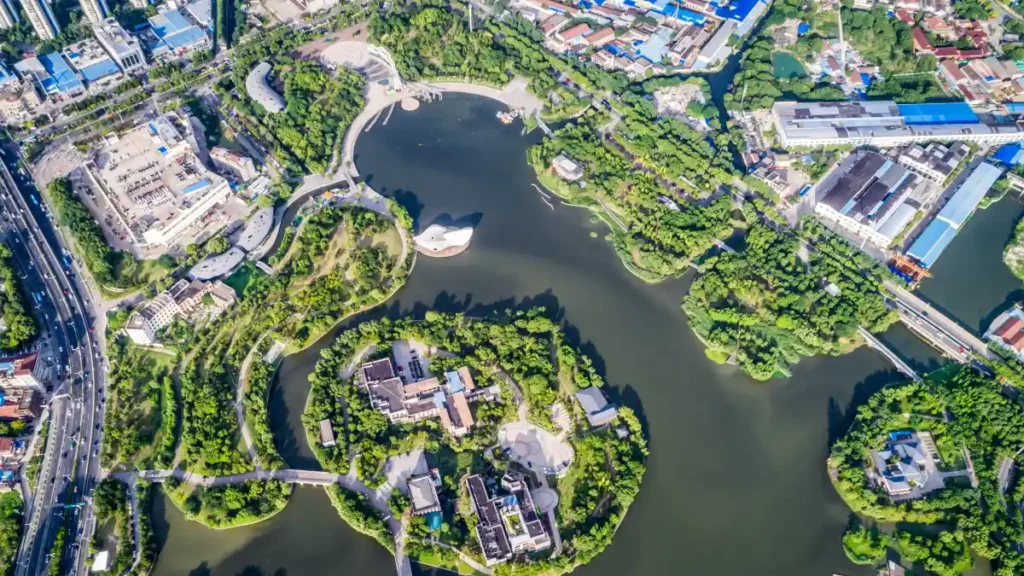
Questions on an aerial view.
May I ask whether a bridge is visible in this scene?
Yes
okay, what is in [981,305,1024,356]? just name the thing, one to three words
house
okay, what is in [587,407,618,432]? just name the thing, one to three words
building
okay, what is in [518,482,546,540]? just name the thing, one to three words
building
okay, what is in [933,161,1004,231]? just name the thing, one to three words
shed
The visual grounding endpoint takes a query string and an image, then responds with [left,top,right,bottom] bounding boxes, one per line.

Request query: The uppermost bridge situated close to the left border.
[0,155,87,334]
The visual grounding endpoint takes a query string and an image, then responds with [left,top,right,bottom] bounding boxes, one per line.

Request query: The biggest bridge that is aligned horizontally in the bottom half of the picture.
[280,468,343,484]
